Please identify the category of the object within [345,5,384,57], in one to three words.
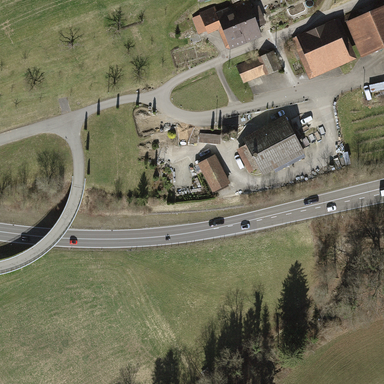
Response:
barn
